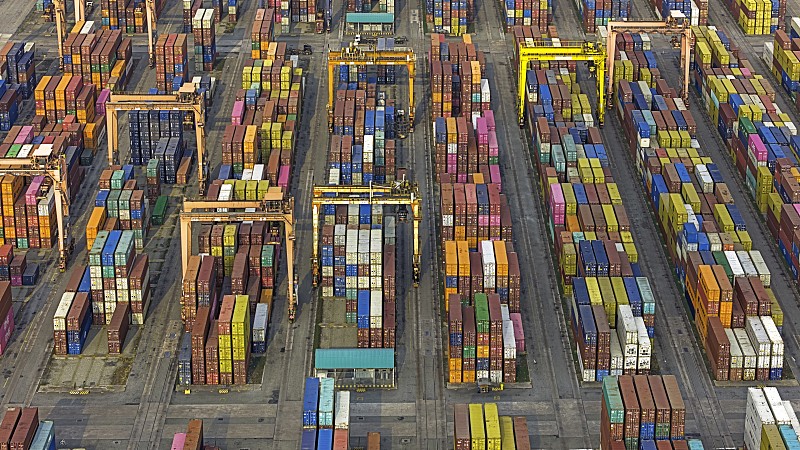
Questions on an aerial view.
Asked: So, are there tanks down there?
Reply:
No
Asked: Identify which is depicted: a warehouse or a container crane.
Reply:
container crane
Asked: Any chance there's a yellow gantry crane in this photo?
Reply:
Yes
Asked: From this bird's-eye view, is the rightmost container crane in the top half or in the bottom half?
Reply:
top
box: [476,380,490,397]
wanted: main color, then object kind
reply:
gray work vehicle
